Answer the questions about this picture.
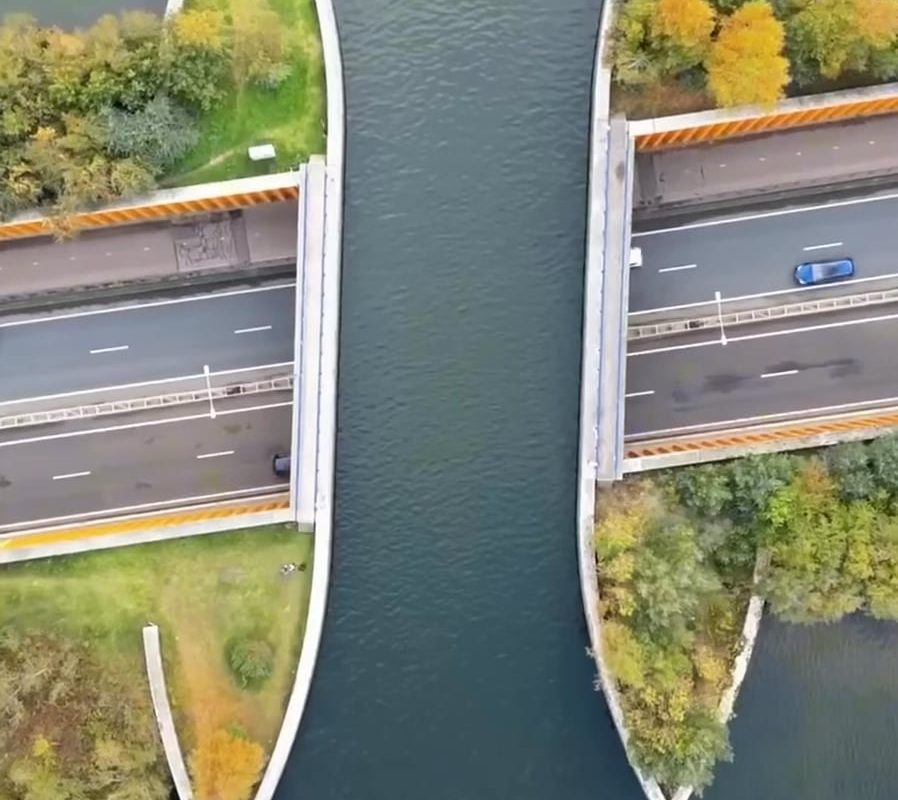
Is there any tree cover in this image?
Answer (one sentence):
Yes, some tree cover is visible.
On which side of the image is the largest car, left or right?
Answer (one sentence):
You can find the largest car on the right side of the picture.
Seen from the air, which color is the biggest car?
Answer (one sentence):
The biggest car looks blue in the image.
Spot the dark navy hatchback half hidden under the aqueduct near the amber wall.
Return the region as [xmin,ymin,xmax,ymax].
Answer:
[272,453,291,475]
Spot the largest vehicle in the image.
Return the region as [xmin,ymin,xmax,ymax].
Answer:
[794,257,855,286]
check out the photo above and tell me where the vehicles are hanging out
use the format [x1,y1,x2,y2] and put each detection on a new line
[630,248,640,272]
[272,453,291,475]
[794,257,855,286]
